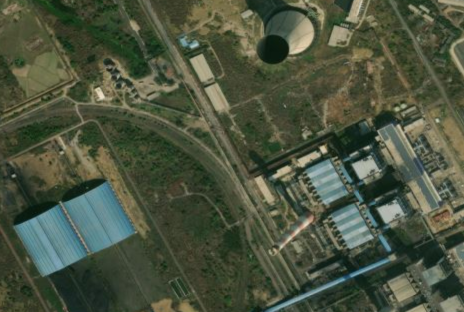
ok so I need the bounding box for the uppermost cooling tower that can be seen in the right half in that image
[257,3,320,65]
